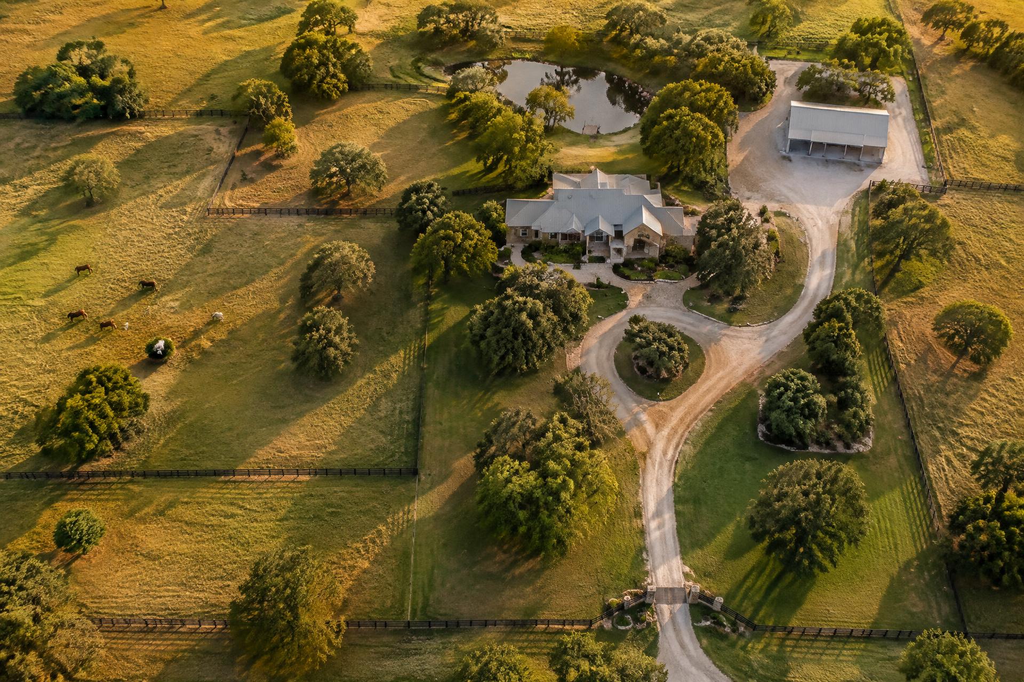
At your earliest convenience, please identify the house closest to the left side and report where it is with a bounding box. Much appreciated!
[505,163,696,264]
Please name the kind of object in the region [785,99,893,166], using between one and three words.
shed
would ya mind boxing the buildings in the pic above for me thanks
[505,163,696,264]
[785,99,893,166]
